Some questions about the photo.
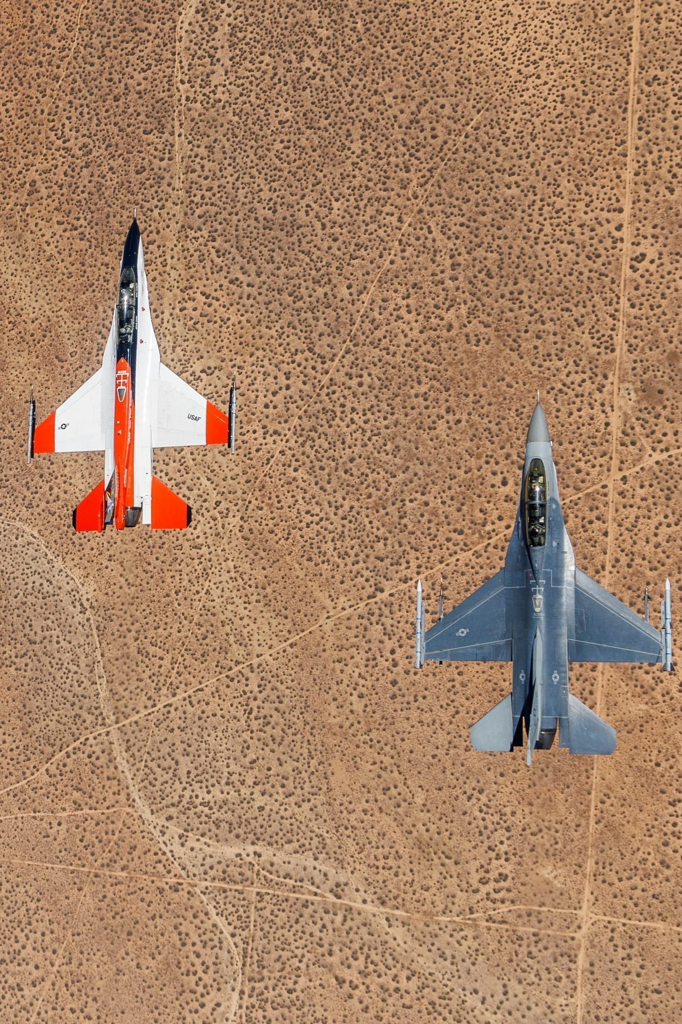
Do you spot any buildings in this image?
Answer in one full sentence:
No, there isn't any building down there.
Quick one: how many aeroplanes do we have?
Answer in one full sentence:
In total, there are 2 aeroplanes in the scene.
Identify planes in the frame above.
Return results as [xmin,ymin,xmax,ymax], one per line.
[422,392,664,764]
[32,217,231,533]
